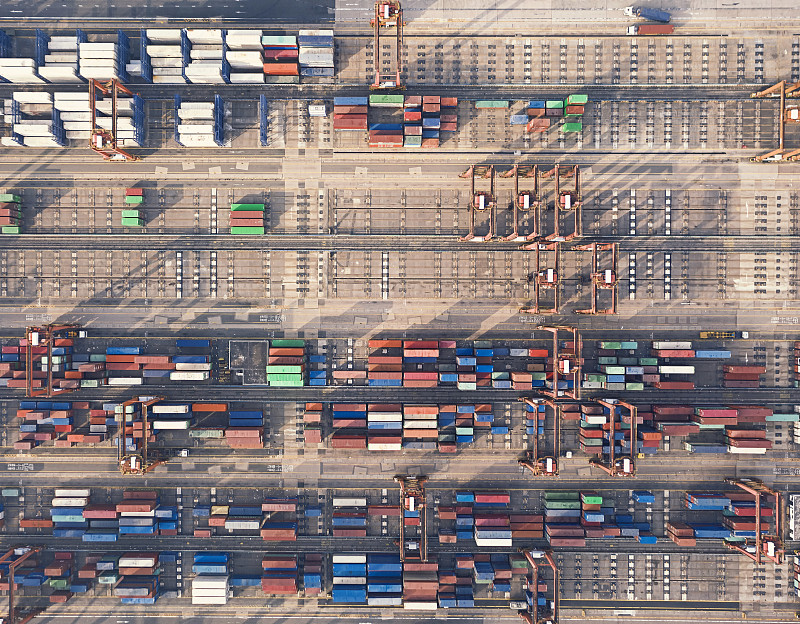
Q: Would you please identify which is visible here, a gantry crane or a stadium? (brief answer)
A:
gantry crane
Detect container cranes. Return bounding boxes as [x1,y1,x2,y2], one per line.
[87,78,138,161]
[0,548,42,624]
[116,395,168,474]
[520,395,562,475]
[520,241,563,316]
[519,548,562,624]
[501,165,544,243]
[538,323,584,399]
[24,323,80,398]
[574,241,621,316]
[540,165,585,243]
[459,165,500,243]
[592,396,639,476]
[729,476,787,561]
[394,477,431,561]
[371,1,408,89]
[753,79,800,162]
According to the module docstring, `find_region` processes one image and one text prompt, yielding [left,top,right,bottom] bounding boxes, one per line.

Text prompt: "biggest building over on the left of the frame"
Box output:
[229,341,269,384]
